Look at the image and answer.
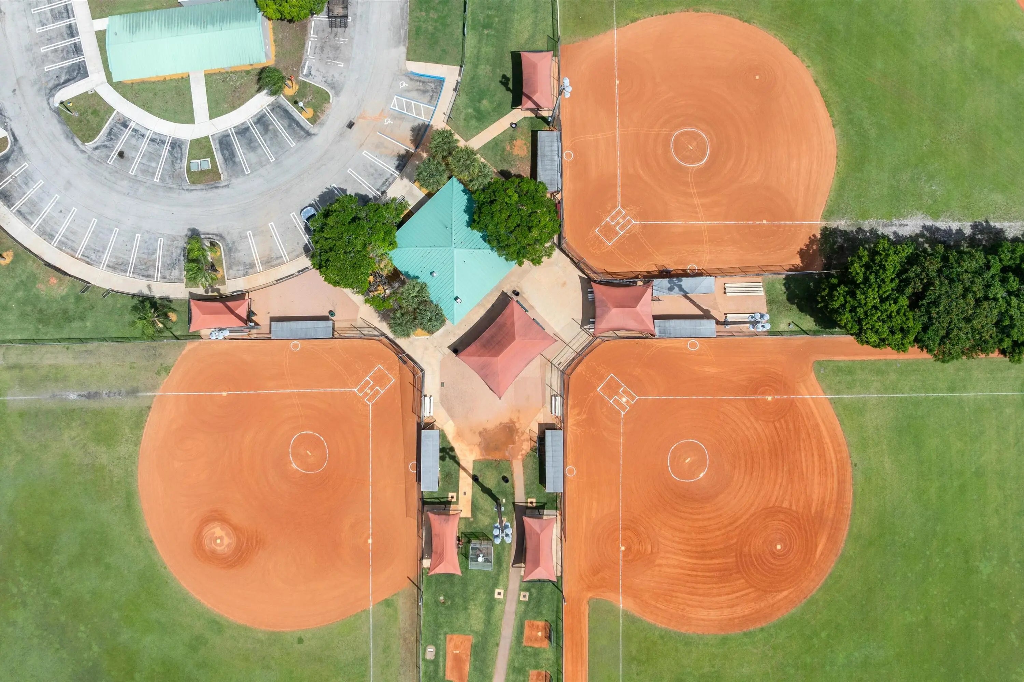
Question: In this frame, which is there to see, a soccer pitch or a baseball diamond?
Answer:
baseball diamond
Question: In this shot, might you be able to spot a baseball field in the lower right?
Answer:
Yes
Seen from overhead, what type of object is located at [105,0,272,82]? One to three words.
building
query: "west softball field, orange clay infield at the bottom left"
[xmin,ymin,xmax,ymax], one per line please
[0,337,423,682]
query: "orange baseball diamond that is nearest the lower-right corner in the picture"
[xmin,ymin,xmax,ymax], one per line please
[563,335,1024,682]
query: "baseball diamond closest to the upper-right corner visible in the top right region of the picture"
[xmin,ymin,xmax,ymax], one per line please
[560,0,1024,281]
